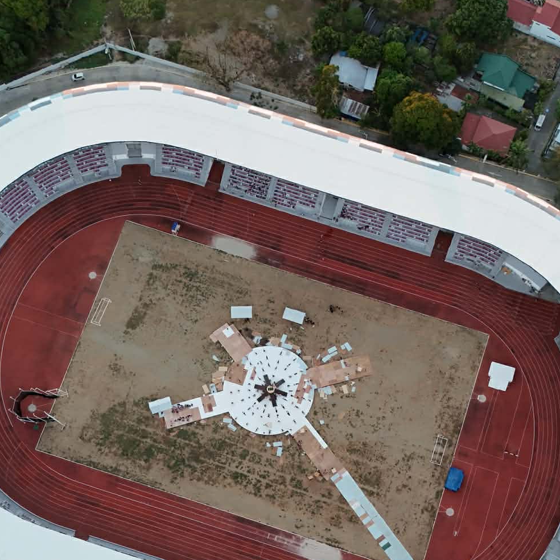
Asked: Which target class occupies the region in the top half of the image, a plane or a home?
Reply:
home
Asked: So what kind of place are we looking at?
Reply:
sports ground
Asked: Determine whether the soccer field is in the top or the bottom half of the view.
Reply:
bottom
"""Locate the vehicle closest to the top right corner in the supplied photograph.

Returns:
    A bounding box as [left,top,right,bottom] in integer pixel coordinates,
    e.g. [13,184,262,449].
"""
[535,114,547,132]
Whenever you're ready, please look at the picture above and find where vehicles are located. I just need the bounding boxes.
[72,72,85,82]
[535,114,547,132]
